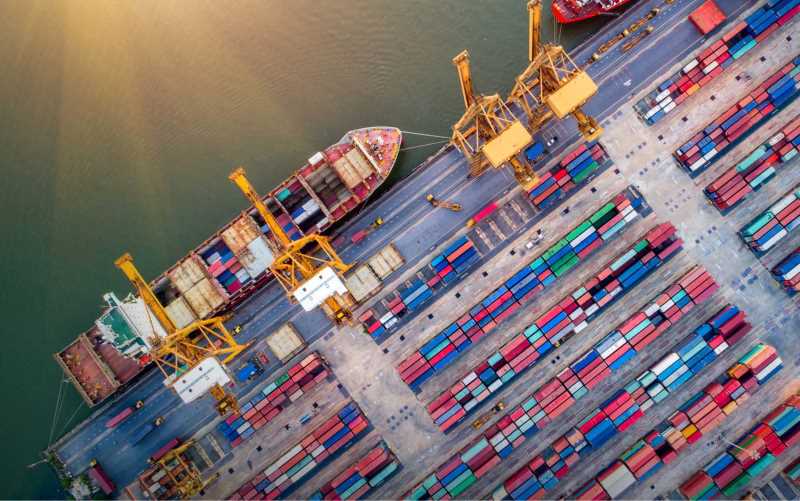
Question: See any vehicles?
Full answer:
Yes, this view includes a vehicle.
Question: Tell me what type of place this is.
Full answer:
This image shows a port.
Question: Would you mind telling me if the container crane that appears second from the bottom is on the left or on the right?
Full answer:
The container crane that appears second from the bottom is on the left side of the image.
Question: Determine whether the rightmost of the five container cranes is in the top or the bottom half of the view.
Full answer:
It is in the top half that the rightmost of the five container cranes appears.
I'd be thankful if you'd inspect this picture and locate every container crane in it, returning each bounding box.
[498,0,605,142]
[130,439,222,501]
[107,255,261,421]
[224,167,359,332]
[442,45,541,191]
